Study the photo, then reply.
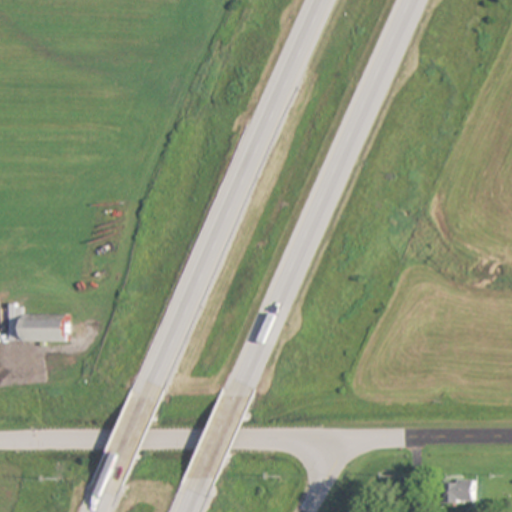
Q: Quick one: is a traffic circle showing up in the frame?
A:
No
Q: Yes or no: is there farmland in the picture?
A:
Yes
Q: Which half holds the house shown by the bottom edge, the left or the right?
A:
right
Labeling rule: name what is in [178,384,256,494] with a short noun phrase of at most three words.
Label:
overpass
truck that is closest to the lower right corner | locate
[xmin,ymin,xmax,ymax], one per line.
[257,301,284,344]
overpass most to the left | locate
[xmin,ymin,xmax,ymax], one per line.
[88,382,166,491]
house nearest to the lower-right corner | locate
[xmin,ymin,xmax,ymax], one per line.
[445,472,478,508]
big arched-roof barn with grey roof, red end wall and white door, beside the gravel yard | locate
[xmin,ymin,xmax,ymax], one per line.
[16,314,72,342]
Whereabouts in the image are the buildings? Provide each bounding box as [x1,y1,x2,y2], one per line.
[16,314,72,342]
[445,472,478,508]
